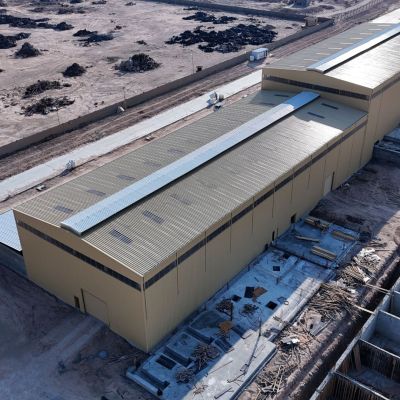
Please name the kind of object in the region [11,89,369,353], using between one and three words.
warehouse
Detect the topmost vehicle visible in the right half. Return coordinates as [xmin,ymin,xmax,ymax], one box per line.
[250,46,268,61]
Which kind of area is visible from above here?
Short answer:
industrial area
